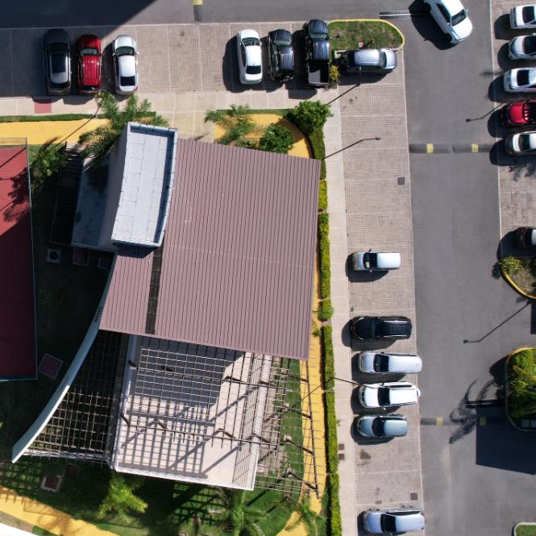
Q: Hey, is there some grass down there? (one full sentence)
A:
Yes, the picture does contain grass.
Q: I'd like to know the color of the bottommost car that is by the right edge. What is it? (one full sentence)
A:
The bottommost car that is by the right edge is black.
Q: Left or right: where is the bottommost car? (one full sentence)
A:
You can find the bottommost car on the right side of the picture.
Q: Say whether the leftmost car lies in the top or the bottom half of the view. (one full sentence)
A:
It is in the top half that the leftmost car appears.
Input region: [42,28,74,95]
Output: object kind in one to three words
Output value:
car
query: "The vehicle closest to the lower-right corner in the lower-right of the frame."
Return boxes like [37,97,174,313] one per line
[362,506,424,536]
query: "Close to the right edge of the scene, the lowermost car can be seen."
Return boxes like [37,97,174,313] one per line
[514,226,536,251]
